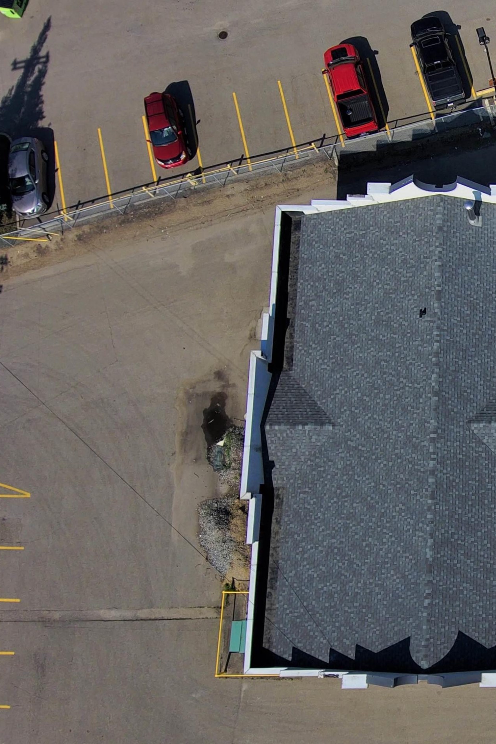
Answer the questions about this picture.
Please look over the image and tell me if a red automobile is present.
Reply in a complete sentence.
Yes, I can see a red automobile in this picture.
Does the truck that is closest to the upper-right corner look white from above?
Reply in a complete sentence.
No, the truck that is closest to the upper-right corner is black.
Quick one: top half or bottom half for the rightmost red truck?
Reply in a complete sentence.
The top half of the photo is where the rightmost red truck is.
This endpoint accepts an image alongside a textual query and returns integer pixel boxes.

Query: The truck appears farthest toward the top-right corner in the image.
[406,15,463,111]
